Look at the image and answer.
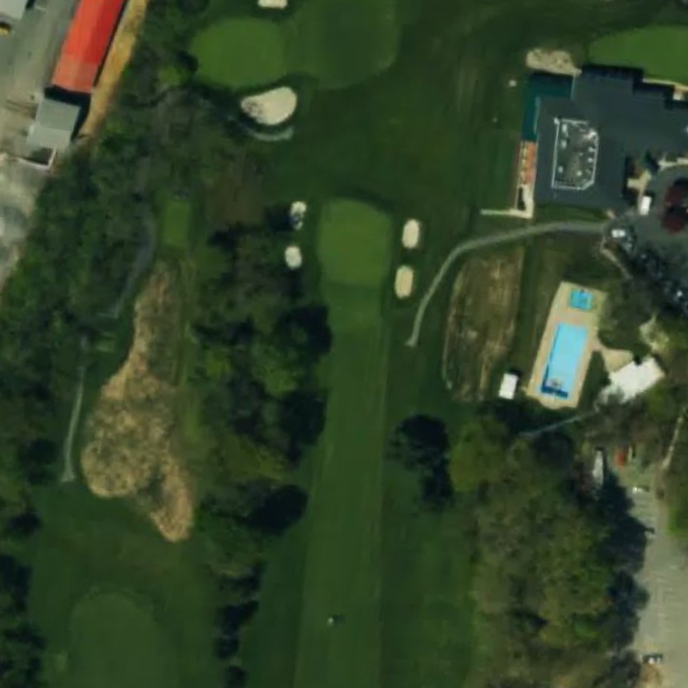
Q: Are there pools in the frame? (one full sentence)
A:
Yes, the frame does contain a pool.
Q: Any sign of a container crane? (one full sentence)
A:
No, the picture doesn't show any container crane.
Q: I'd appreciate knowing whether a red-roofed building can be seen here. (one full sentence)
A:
Yes, the image includes a red-roofed building.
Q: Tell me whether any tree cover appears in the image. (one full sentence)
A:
Yes, tree cover shows up in the scene.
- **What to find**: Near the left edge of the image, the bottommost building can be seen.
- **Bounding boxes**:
[23,99,79,150]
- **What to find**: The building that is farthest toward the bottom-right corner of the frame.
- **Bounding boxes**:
[604,356,665,403]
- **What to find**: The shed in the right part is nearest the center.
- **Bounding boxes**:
[500,373,519,399]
